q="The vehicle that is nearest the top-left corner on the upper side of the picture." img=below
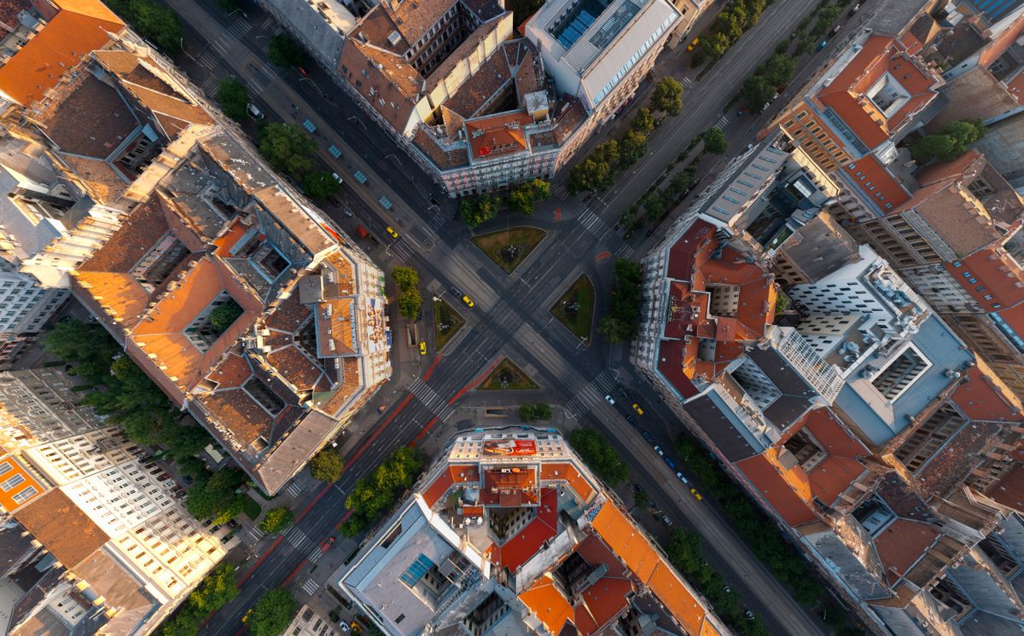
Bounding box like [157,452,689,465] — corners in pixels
[246,102,263,118]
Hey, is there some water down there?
No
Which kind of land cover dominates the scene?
buildings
